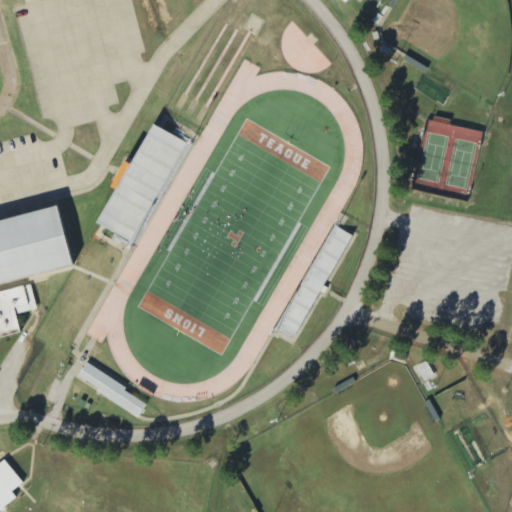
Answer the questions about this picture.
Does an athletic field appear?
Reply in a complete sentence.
Yes, this view includes an athletic field.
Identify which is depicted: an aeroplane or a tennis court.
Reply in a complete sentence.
Visible in the photo is a tennis court.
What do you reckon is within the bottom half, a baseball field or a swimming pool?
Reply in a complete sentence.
There is a baseball field within the bottom half.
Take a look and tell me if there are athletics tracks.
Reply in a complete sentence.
Yes, an athletics track can be made out from above.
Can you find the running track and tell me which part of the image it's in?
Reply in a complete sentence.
The running track appears toward the center of the photo.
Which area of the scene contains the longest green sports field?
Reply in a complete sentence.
The longest green sports field sits in the center section of the image.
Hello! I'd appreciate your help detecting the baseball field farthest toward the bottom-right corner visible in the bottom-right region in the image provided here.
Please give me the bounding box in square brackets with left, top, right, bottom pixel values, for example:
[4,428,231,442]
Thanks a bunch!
[328,376,430,472]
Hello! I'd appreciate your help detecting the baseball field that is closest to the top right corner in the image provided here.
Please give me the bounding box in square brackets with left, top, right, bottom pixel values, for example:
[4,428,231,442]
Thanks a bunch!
[392,0,458,58]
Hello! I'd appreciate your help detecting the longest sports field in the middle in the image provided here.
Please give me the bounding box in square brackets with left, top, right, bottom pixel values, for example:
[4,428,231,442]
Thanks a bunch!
[124,90,345,384]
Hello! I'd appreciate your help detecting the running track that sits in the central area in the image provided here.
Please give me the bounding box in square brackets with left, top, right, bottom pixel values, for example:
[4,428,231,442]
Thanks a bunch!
[86,59,363,402]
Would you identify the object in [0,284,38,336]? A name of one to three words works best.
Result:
building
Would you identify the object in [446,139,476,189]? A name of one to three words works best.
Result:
tennis court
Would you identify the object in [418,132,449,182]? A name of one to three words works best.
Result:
tennis court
